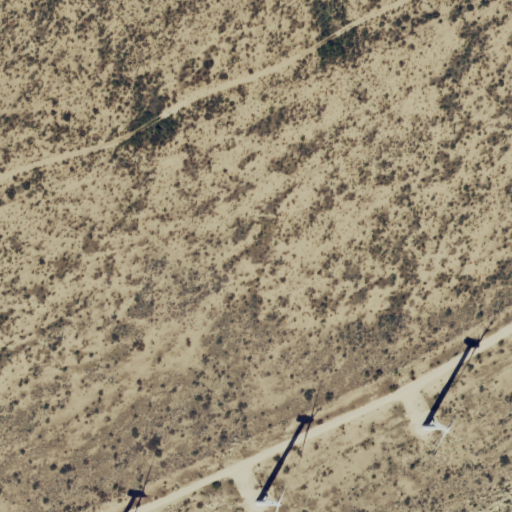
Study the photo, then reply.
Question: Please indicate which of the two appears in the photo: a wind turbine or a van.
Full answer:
There is a wind turbine in the scene.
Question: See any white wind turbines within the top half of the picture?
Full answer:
No, the scene shows no white wind turbine within the top half of the picture.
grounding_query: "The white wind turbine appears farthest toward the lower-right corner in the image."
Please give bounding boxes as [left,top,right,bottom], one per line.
[421,414,458,459]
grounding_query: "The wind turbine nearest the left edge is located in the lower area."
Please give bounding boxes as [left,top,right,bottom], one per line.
[254,488,286,512]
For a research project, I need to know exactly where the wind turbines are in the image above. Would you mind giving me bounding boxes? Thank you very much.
[254,488,286,512]
[421,414,458,459]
